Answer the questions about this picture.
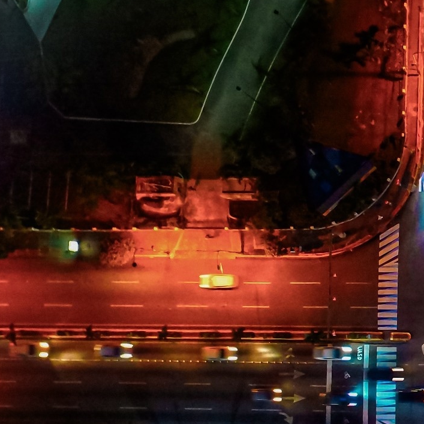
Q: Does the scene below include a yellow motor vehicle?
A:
Yes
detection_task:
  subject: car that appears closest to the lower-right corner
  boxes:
[397,388,424,402]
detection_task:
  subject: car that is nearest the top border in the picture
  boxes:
[199,272,238,290]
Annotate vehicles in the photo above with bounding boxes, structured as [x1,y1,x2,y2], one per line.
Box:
[368,367,405,381]
[204,346,240,361]
[97,343,135,358]
[16,342,52,357]
[397,388,424,402]
[199,272,238,290]
[251,388,285,403]
[315,346,353,362]
[324,391,361,405]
